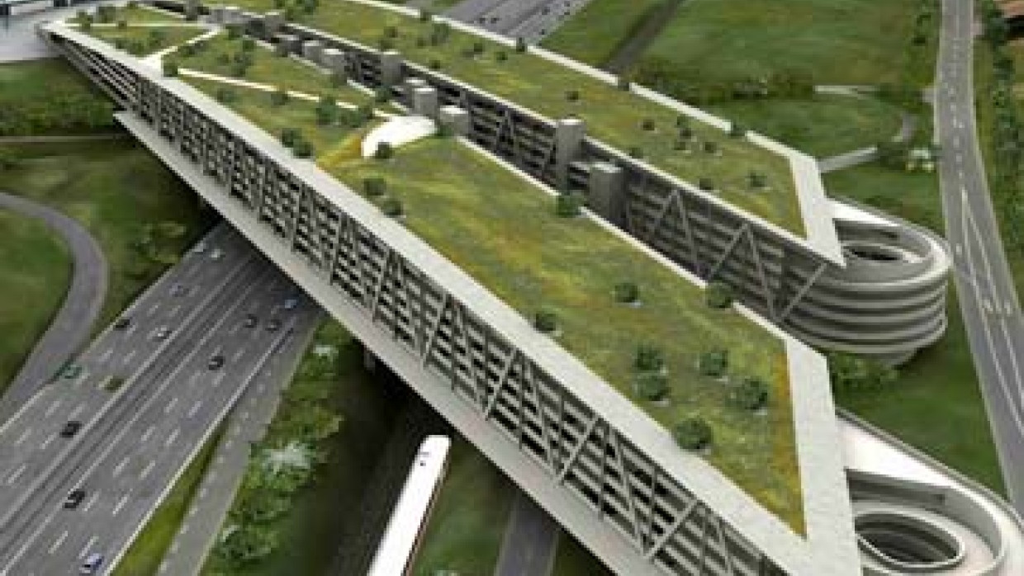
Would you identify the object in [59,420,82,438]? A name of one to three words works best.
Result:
car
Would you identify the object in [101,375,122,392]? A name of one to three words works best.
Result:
car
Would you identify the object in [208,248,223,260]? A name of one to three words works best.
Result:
vehicle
